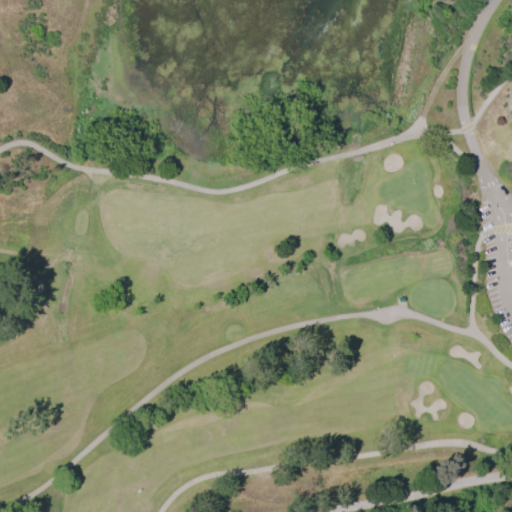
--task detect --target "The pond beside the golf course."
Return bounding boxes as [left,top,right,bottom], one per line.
[121,0,410,170]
